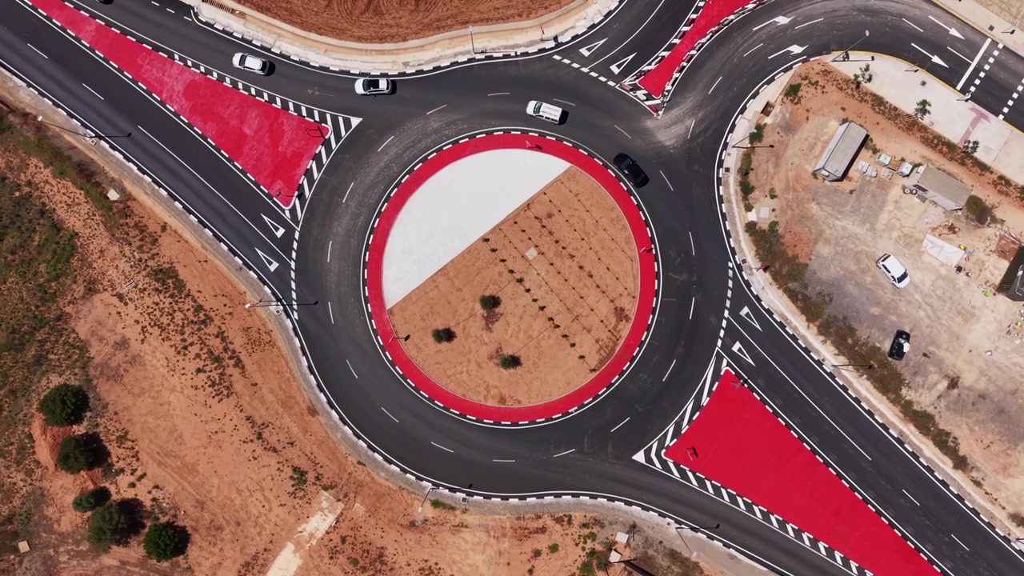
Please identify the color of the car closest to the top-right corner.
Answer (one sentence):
The car closest to the top-right corner looks white in the image.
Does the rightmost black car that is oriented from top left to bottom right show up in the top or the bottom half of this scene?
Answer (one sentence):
The top half of the photo is where the rightmost black car that is oriented from top left to bottom right is.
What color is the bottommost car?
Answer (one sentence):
The bottommost car looks black in the image.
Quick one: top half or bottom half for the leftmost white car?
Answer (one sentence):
It is in the top half that the leftmost white car appears.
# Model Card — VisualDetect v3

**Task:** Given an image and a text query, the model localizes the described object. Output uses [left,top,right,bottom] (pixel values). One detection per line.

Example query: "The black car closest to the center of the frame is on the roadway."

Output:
[616,153,649,189]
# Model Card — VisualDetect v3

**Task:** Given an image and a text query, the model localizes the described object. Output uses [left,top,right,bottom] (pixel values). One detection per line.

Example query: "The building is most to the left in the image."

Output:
[814,123,867,180]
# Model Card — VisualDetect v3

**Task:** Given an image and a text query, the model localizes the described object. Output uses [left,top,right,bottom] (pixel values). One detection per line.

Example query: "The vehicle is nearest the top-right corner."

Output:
[877,254,908,287]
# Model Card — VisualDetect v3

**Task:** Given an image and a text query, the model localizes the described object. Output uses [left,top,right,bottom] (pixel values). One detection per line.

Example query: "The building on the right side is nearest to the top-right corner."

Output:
[905,165,972,210]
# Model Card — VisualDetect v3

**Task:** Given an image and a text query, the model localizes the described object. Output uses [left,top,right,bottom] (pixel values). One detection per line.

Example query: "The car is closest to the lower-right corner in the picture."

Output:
[886,329,910,362]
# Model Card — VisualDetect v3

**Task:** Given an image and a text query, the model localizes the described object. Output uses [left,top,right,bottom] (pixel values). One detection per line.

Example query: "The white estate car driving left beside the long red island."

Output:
[232,52,272,76]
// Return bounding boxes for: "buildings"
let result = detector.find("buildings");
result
[814,123,867,180]
[905,165,972,210]
[997,246,1024,301]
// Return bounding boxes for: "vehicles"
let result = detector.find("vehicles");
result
[886,329,910,362]
[877,254,908,287]
[526,101,565,125]
[232,52,272,76]
[355,76,393,96]
[616,153,649,189]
